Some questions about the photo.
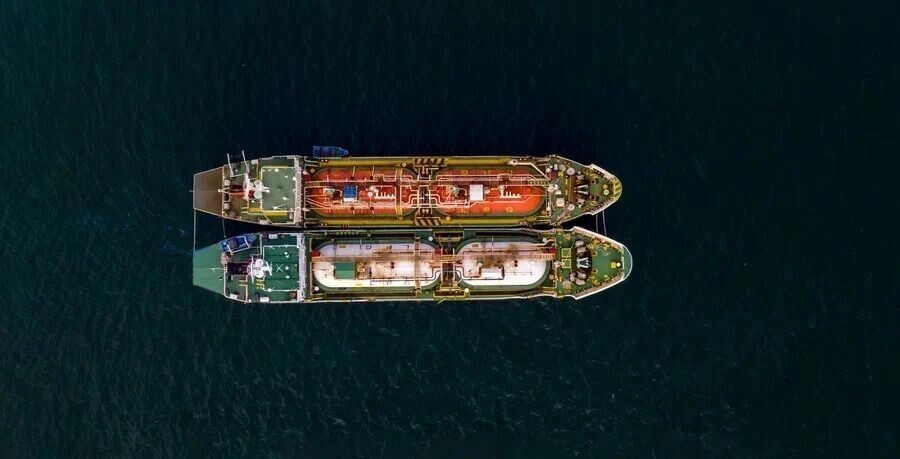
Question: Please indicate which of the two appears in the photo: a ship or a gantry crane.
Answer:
ship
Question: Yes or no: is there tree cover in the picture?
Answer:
No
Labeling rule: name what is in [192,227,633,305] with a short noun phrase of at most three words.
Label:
ship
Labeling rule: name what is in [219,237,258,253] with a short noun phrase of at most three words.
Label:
boat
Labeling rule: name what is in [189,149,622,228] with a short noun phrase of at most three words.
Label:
ship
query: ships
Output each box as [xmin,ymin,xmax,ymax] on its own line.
[189,149,622,228]
[192,227,633,305]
